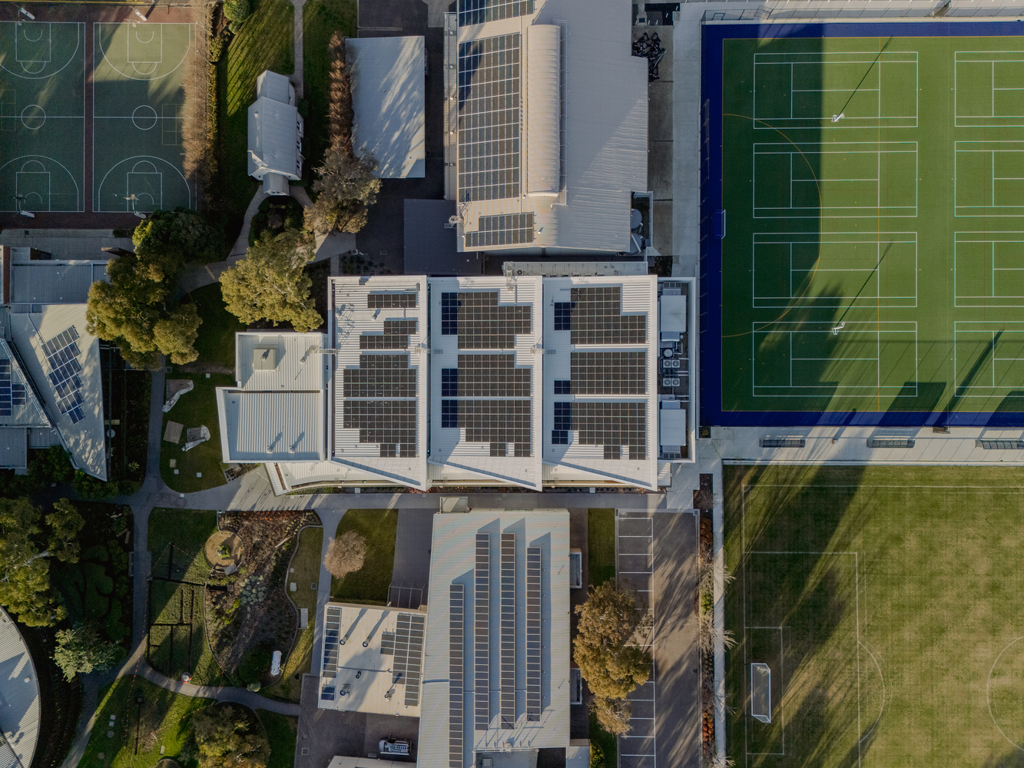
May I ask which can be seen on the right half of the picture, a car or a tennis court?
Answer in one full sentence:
Looking on the right half of the picture, you will find a tennis court.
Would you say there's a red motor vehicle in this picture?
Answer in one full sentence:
No, there's no red motor vehicle here.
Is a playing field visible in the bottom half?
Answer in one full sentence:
Yes, looking in the bottom half, one can make out a playing field.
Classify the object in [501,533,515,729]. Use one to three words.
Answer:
solar array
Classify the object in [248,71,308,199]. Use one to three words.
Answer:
building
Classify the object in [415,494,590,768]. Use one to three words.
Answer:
building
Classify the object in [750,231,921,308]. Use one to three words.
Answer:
tennis court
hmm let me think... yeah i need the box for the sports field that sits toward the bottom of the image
[726,465,1024,768]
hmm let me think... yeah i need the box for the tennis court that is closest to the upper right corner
[951,52,1024,128]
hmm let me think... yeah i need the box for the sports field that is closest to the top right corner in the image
[702,20,1024,426]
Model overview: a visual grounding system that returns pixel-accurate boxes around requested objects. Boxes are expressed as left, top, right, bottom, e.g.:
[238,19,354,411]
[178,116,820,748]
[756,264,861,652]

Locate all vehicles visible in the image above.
[378,732,412,757]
